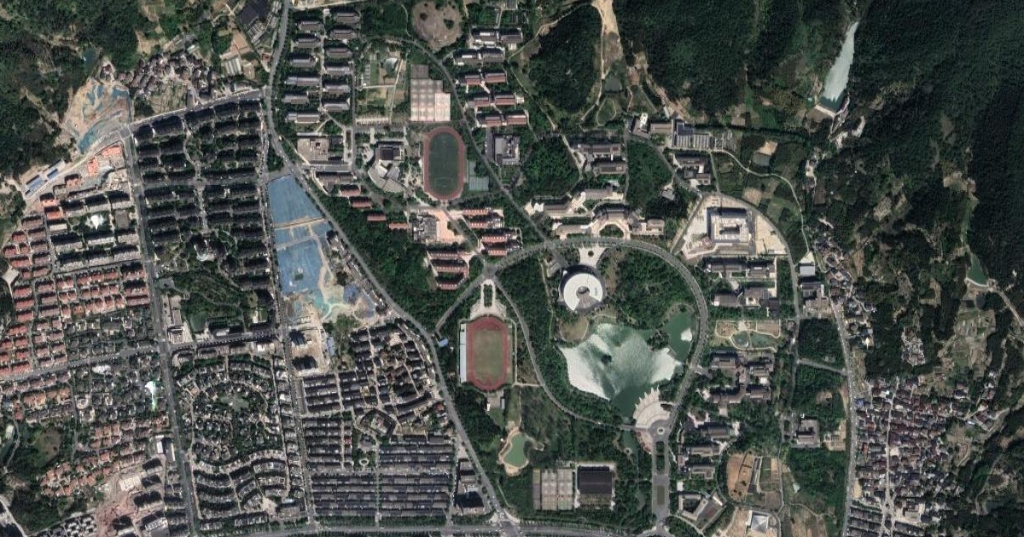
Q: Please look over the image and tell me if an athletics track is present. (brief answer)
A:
Yes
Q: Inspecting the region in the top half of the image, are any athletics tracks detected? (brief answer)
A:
Yes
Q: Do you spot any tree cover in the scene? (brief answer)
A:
Yes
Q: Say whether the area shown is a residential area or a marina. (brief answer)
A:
residential area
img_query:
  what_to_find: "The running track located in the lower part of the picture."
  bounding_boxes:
[468,316,509,391]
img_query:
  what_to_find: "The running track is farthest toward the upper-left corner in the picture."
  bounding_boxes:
[424,126,464,201]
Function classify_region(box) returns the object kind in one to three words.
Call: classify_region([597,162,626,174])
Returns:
building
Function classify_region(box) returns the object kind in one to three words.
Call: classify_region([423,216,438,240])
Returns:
building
